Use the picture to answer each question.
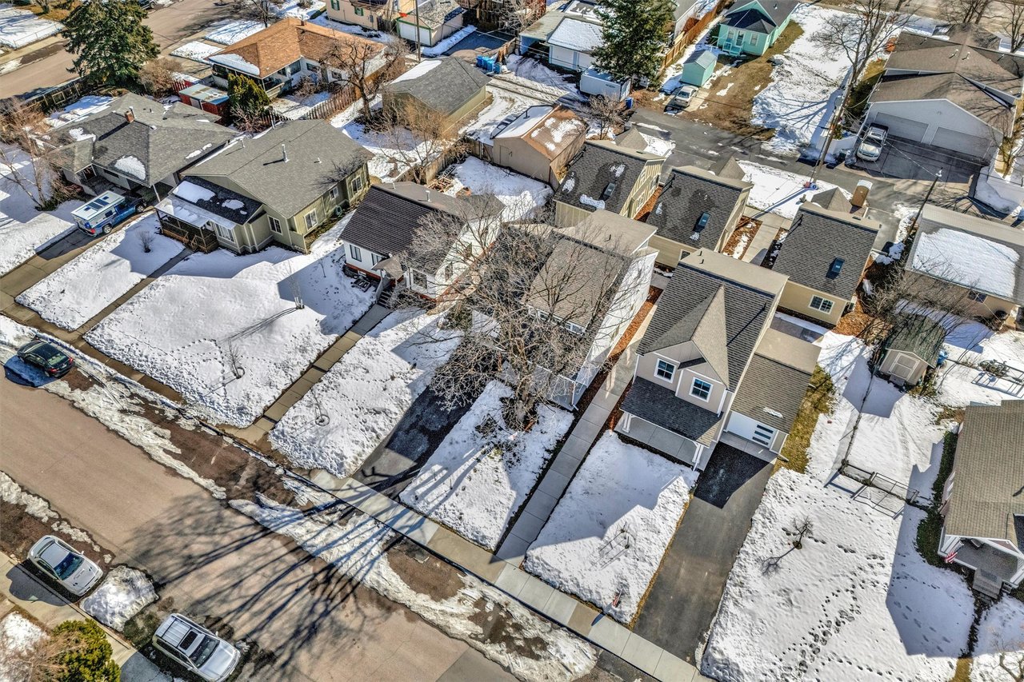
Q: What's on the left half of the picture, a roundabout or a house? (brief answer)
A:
house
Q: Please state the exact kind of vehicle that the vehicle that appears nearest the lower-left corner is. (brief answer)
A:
car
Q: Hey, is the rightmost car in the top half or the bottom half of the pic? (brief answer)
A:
top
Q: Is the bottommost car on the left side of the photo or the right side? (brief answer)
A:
left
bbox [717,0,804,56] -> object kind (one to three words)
house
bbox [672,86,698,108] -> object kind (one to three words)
car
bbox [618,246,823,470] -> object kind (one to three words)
house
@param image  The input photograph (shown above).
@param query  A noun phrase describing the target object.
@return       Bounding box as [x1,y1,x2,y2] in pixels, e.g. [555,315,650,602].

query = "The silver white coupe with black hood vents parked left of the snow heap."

[22,531,108,600]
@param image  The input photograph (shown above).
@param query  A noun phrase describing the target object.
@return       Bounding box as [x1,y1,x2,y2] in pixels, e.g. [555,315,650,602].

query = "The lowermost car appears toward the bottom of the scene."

[152,603,243,682]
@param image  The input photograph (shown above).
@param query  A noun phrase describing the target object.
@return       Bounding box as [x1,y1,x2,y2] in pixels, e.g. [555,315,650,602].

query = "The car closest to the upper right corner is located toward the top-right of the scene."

[858,125,888,159]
